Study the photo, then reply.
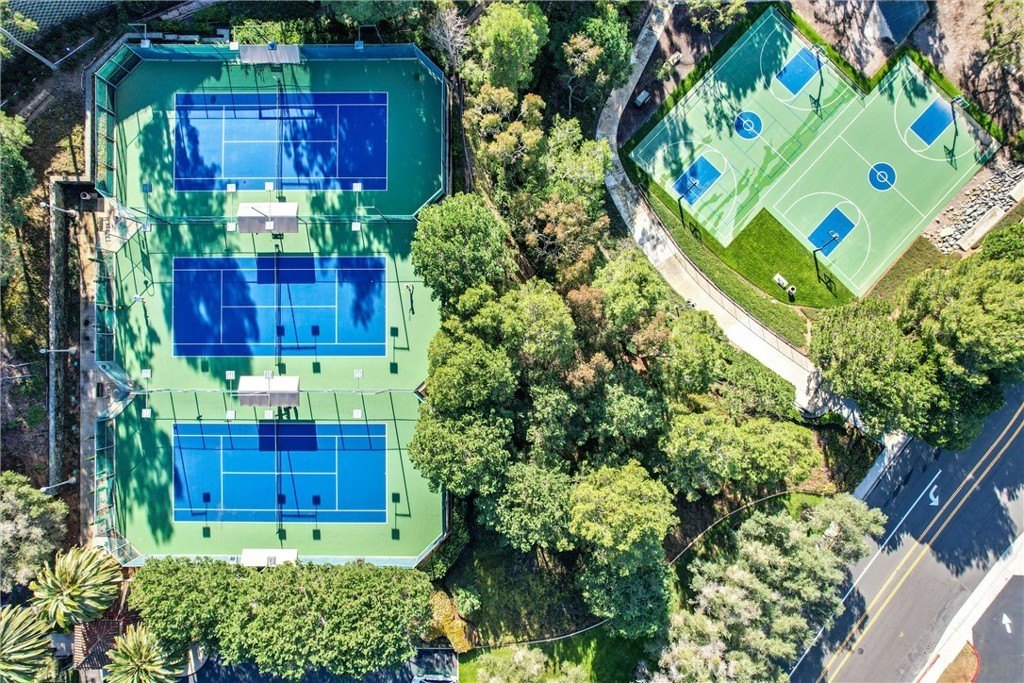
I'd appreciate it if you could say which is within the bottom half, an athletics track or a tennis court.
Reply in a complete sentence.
The one visible within the bottom half is a tennis court.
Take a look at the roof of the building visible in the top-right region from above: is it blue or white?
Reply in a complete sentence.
The roof of the building visible in the top-right region is blue.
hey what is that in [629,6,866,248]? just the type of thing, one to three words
basketball court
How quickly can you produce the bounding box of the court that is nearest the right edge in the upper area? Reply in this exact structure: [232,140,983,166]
[766,56,1000,297]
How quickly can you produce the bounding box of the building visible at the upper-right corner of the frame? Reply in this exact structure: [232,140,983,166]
[865,0,931,51]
